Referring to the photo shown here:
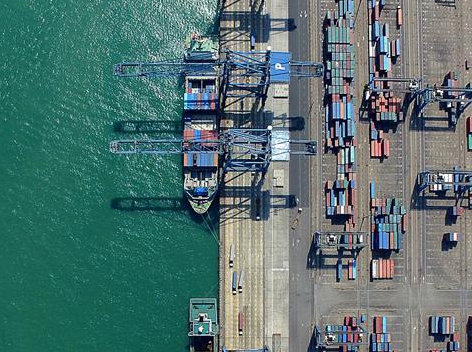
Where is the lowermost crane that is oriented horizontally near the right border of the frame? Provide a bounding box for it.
[416,170,472,191]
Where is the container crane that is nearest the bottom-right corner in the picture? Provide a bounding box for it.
[312,320,366,343]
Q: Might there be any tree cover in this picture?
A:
No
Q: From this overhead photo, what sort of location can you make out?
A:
port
